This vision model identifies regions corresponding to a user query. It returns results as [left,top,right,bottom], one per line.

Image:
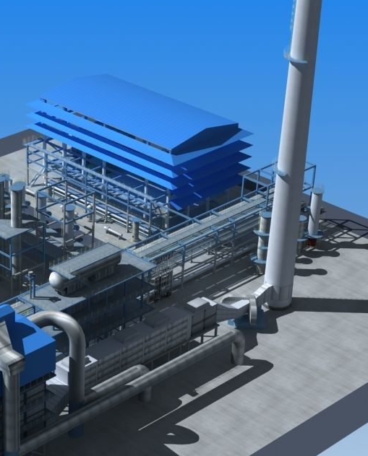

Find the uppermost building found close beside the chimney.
[26,73,252,230]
